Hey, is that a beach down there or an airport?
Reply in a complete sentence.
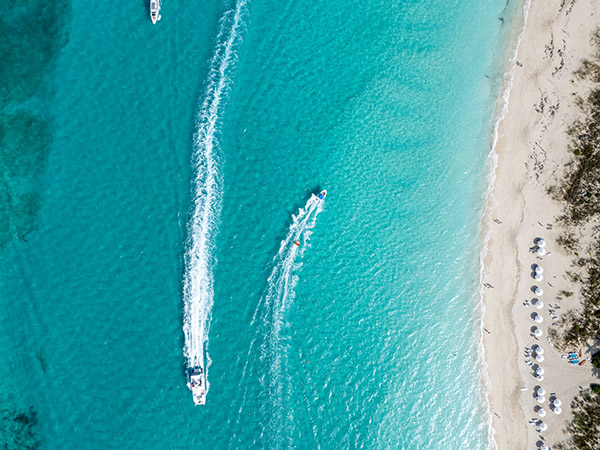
It's a beach.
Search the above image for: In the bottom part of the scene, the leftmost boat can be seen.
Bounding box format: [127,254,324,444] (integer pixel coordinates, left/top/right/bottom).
[190,369,205,408]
